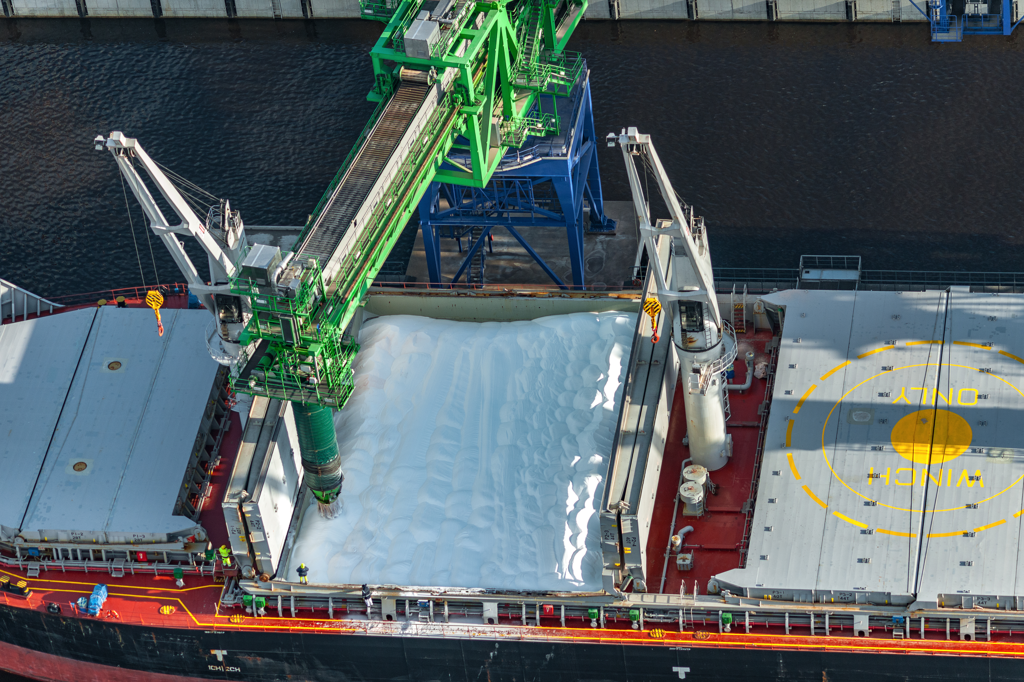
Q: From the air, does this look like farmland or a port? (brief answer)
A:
port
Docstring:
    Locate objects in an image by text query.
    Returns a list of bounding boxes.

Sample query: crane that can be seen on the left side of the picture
[89,135,252,455]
